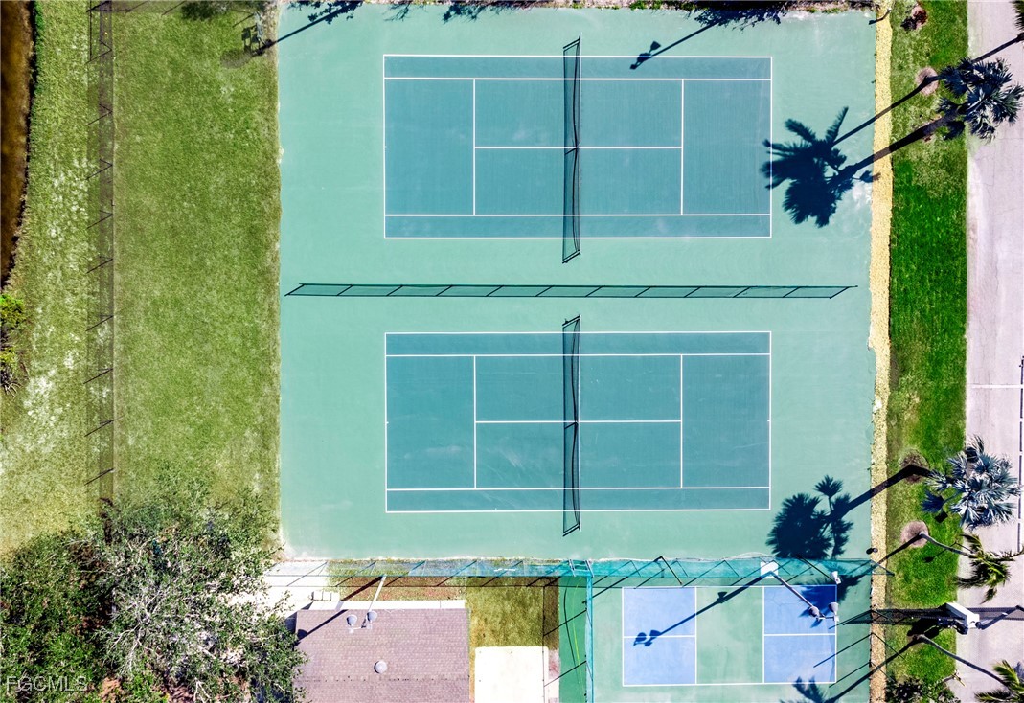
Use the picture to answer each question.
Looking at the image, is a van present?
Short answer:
No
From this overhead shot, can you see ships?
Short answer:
No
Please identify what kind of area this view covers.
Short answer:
sports ground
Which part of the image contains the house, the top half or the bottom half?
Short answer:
bottom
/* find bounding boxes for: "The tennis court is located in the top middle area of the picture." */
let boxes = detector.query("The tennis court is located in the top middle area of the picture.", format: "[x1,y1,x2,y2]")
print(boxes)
[277,7,877,290]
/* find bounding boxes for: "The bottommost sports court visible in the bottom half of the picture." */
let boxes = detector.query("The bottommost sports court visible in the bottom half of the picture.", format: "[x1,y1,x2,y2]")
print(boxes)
[586,560,871,703]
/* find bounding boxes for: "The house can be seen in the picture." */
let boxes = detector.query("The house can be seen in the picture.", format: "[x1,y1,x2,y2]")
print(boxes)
[295,600,469,703]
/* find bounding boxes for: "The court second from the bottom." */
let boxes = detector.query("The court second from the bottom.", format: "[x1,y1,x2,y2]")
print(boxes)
[278,290,876,559]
